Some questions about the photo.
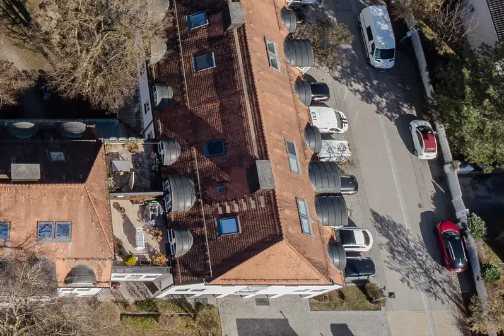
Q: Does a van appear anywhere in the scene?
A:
Yes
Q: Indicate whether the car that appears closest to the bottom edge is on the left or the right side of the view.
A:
right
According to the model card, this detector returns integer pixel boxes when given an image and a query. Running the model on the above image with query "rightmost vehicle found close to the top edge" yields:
[356,4,393,75]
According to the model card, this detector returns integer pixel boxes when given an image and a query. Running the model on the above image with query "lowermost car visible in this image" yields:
[344,258,388,285]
